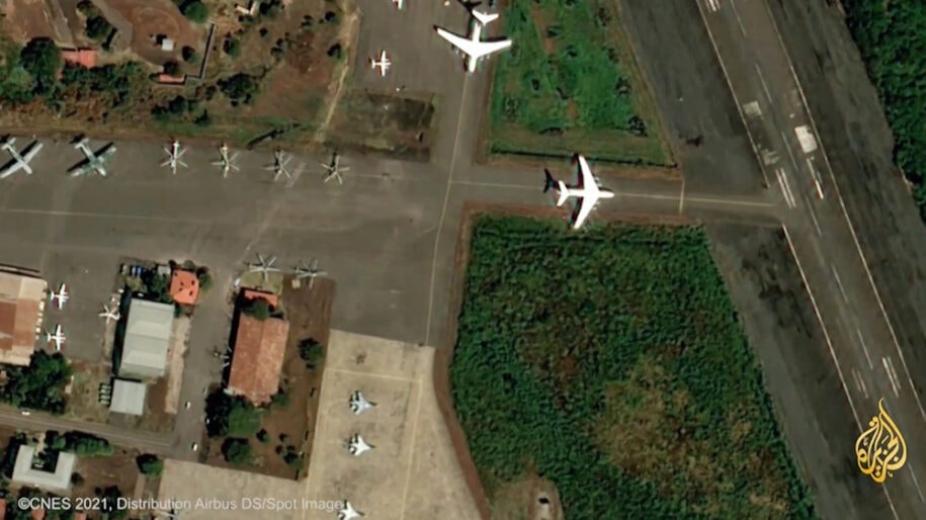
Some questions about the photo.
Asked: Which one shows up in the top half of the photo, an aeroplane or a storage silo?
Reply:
aeroplane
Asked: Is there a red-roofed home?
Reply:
Yes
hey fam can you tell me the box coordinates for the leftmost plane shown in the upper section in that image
[0,137,43,178]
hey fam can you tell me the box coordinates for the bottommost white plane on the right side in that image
[557,155,616,230]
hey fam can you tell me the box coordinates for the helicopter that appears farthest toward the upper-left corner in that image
[160,138,188,175]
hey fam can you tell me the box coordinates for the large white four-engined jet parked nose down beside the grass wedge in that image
[439,12,511,74]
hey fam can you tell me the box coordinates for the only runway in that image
[696,0,926,520]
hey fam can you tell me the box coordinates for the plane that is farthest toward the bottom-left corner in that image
[48,325,67,351]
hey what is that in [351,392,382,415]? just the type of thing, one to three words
airplane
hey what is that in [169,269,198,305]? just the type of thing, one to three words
house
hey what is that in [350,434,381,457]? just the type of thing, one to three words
airplane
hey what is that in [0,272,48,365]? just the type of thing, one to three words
hangar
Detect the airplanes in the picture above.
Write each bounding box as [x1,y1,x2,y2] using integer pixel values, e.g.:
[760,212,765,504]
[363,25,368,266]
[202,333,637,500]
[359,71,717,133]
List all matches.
[557,155,616,230]
[338,501,369,520]
[0,137,43,178]
[373,50,391,76]
[51,284,70,309]
[350,434,381,457]
[439,12,511,74]
[48,325,67,351]
[397,0,405,10]
[351,392,382,415]
[71,138,117,177]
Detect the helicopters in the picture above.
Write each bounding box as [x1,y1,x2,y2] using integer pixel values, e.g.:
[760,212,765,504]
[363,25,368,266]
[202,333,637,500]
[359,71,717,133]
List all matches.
[295,259,329,289]
[245,254,280,284]
[322,151,351,184]
[211,142,240,179]
[160,138,188,175]
[265,148,291,183]
[103,300,119,325]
